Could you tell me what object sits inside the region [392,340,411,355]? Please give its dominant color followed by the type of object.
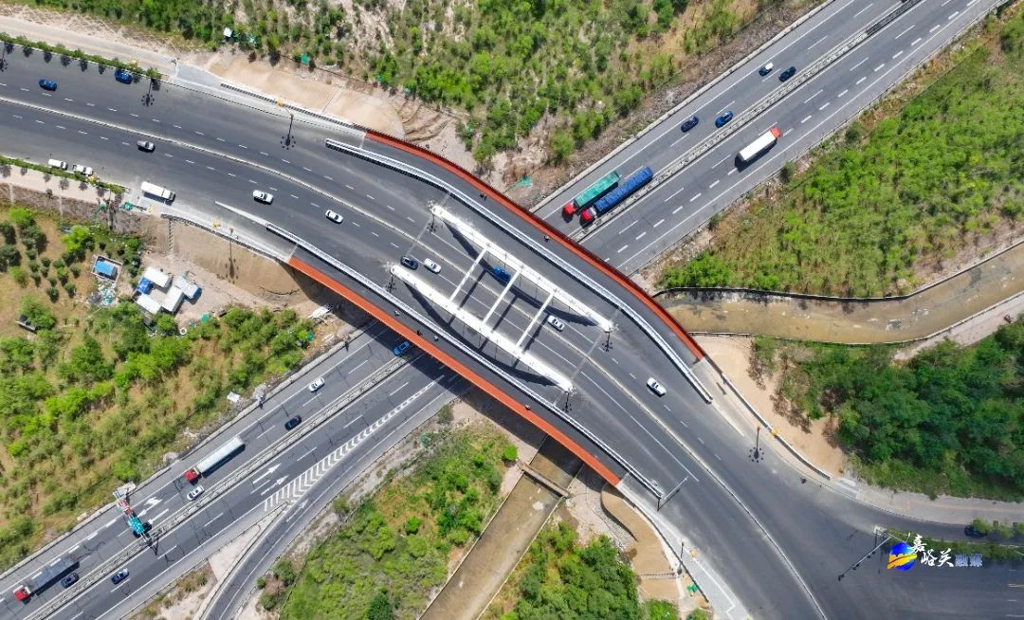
blue car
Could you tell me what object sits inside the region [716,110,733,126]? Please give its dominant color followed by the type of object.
blue car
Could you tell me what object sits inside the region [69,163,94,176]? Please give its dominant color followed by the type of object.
white vehicle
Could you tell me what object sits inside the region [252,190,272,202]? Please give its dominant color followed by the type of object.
white vehicle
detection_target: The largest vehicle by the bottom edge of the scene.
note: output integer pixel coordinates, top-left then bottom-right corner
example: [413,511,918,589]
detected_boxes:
[17,553,82,599]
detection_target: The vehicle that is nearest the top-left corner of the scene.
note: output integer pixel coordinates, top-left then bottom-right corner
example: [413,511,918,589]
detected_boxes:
[35,77,56,89]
